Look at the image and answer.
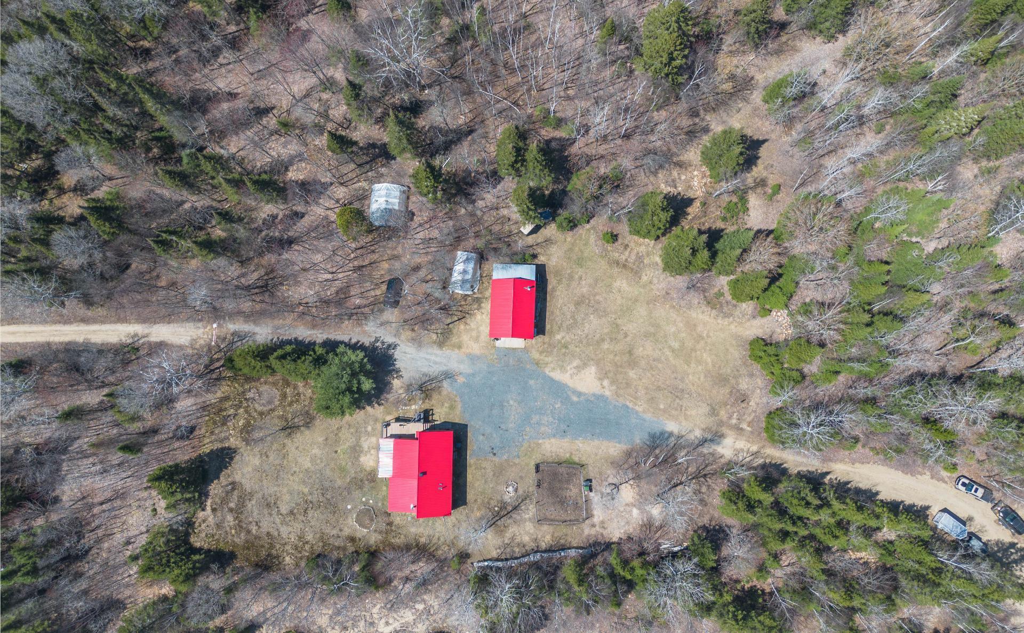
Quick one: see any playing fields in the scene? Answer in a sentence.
No, there appears to be no playing field in this shot.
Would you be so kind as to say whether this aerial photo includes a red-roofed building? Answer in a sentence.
Yes, a red-roofed building is visible in the scene.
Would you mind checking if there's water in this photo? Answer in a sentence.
No, water can't be seen anywhere here.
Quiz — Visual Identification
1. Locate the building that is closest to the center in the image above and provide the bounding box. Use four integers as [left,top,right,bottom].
[490,263,537,339]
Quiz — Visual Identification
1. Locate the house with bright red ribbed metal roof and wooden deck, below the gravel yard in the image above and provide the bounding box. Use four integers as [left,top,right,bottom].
[380,408,453,518]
